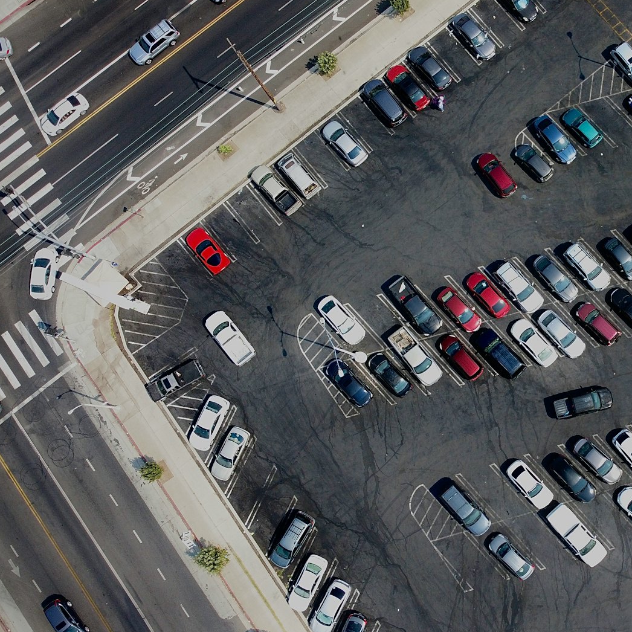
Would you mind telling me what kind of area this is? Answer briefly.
parking lot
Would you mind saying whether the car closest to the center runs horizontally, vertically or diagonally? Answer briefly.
diagonally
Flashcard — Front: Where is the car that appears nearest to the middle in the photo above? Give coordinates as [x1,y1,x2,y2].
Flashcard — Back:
[316,292,368,347]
